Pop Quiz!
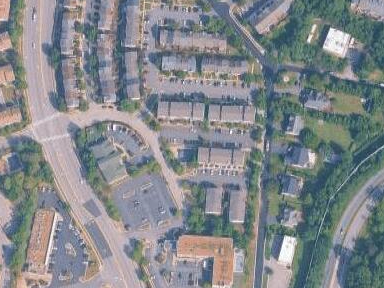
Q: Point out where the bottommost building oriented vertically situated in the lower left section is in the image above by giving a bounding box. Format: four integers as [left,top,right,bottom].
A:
[26,210,57,272]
